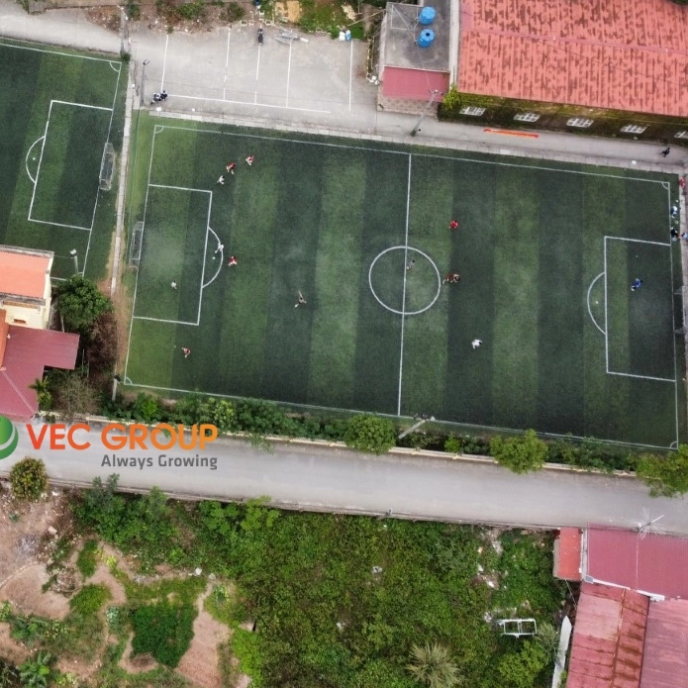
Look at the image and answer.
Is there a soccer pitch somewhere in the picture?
Yes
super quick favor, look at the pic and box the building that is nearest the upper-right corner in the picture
[432,0,688,146]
